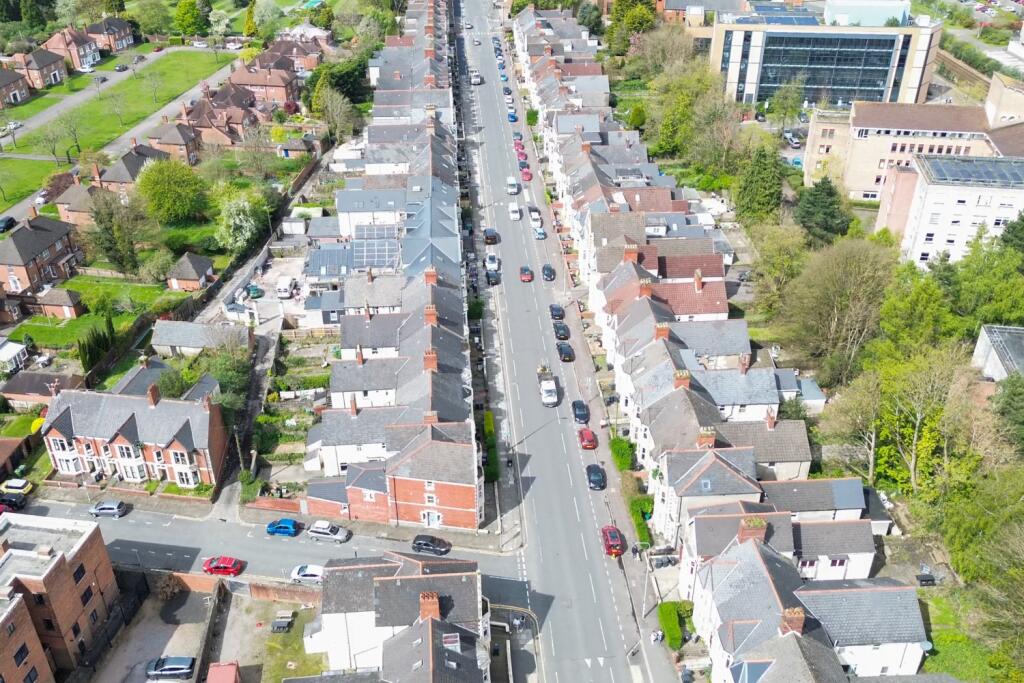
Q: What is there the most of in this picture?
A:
buildings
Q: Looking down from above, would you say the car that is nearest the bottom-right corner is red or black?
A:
red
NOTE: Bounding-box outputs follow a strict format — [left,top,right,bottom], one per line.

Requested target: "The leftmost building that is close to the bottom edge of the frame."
[0,508,118,683]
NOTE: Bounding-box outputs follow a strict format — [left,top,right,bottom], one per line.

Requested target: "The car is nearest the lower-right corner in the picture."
[600,526,623,557]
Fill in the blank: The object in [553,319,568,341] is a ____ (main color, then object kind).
gray car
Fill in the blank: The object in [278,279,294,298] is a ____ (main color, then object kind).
white vehicle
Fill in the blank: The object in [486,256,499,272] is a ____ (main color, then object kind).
white vehicle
